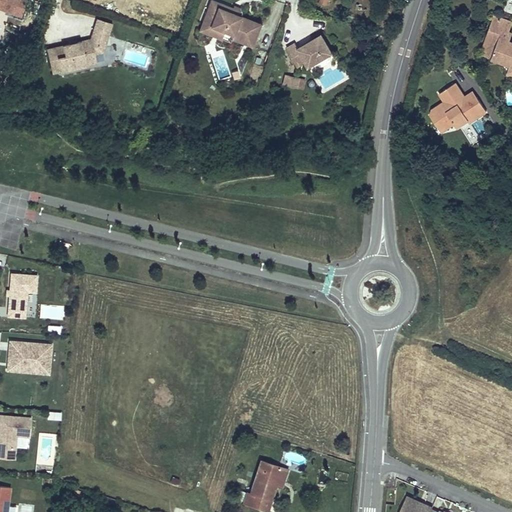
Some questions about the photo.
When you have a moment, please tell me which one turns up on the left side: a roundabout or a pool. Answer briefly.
pool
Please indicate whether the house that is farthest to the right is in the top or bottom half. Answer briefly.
top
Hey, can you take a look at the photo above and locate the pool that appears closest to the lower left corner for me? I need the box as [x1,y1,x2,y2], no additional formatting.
[37,433,58,466]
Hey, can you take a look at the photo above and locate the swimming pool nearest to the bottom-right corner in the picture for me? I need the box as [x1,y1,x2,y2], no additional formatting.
[280,451,308,473]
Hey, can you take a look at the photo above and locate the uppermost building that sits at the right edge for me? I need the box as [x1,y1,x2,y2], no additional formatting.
[484,16,512,78]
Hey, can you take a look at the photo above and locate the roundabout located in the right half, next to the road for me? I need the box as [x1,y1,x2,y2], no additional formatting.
[329,254,418,331]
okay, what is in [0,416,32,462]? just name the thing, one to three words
house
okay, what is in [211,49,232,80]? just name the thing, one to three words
swimming pool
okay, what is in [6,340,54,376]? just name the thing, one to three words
house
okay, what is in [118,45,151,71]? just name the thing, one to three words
swimming pool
